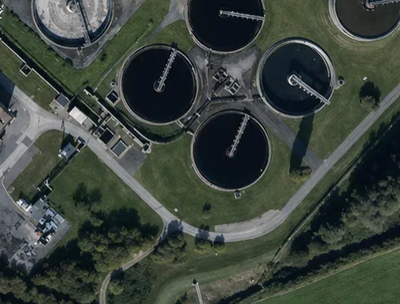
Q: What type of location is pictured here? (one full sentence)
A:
The picture captures an industrial area.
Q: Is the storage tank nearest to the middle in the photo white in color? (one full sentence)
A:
No, the color of the storage tank nearest to the middle is black.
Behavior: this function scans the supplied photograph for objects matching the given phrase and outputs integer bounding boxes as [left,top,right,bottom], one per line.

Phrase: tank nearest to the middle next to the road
[189,110,272,193]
